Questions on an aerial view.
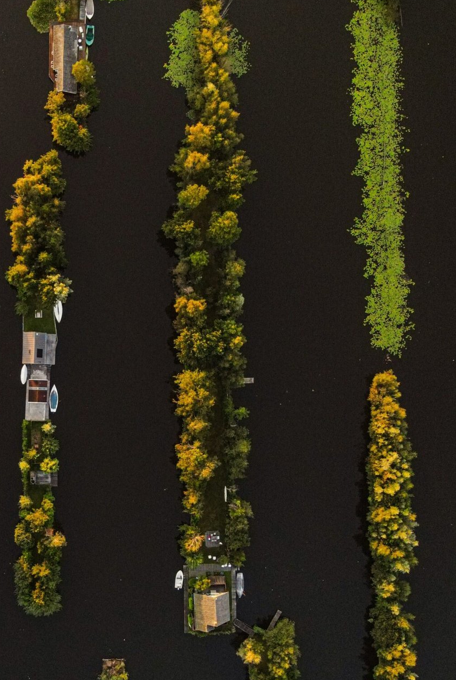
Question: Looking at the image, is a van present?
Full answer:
No, no van can be seen from above.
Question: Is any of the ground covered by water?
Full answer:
Yes, there is water in the image.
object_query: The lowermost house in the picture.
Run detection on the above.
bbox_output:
[193,591,229,634]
